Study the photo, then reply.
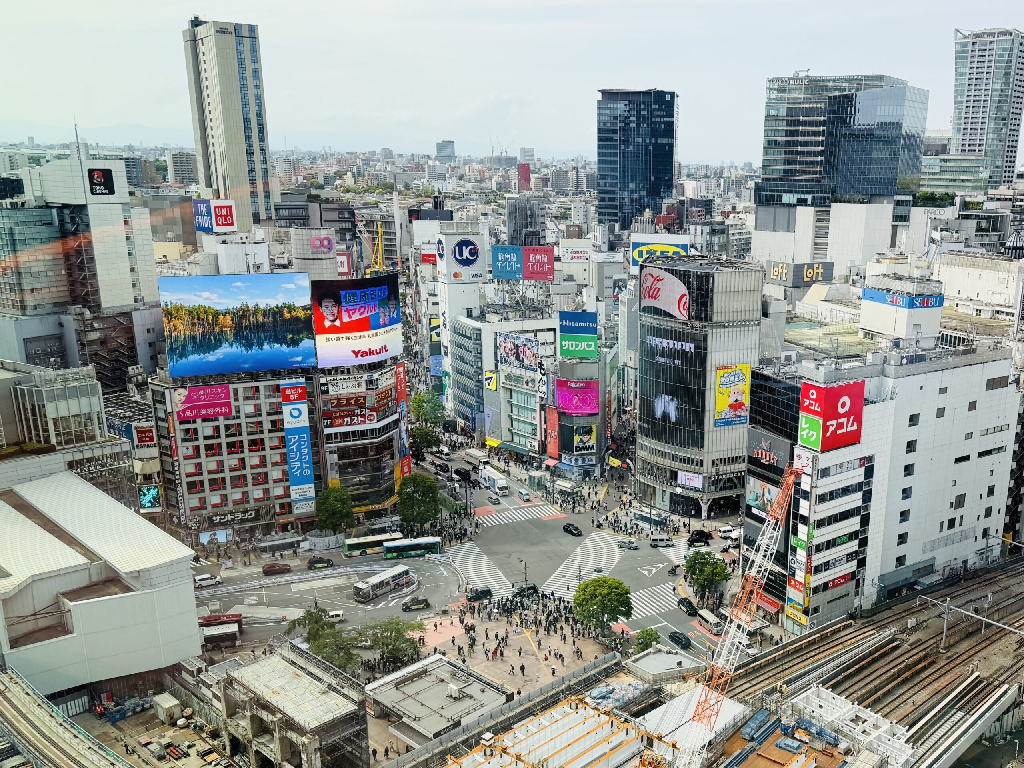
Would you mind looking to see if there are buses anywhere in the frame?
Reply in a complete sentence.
Yes, the picture does show a bus.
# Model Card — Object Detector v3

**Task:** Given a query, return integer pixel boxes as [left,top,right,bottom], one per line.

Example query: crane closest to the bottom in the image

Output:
[601,443,824,768]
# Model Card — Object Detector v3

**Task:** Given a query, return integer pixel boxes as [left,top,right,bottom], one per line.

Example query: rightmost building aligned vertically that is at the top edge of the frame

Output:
[946,19,1024,255]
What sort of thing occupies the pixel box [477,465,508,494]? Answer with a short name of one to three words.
truck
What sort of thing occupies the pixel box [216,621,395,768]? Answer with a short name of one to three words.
building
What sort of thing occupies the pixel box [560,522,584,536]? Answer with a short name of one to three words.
car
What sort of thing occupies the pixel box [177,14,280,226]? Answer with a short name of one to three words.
building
